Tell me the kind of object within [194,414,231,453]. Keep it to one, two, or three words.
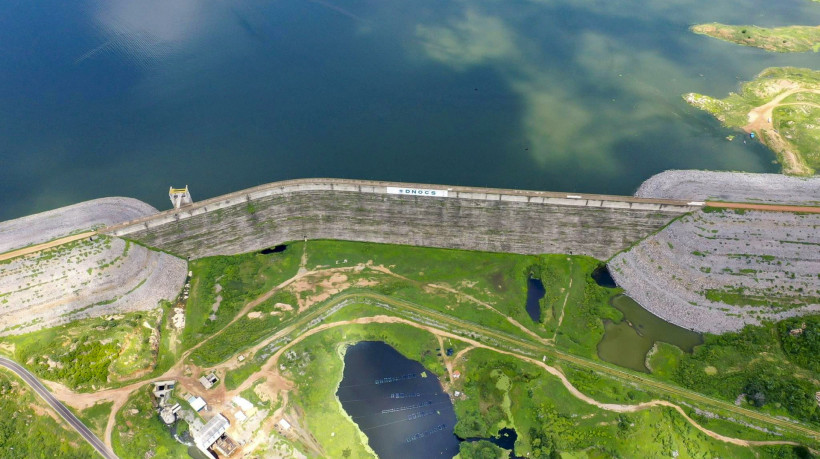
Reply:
building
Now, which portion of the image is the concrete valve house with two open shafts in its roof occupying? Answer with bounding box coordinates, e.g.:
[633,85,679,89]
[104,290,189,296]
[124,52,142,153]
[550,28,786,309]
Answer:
[154,380,176,405]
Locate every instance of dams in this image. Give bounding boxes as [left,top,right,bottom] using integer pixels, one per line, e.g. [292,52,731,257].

[93,177,703,273]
